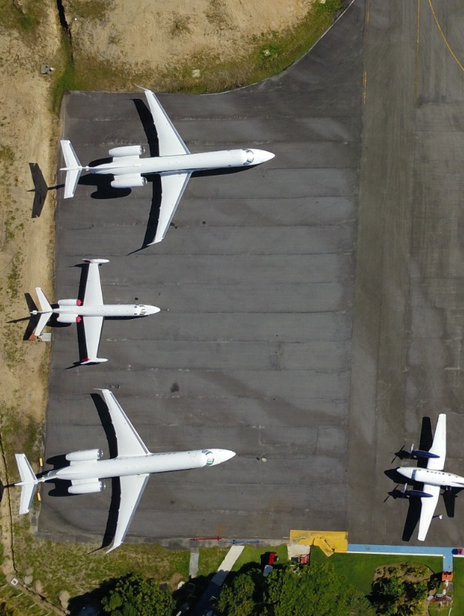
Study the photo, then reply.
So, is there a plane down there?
Yes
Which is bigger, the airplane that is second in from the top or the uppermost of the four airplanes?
the uppermost of the four airplanes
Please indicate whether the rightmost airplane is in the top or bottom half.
bottom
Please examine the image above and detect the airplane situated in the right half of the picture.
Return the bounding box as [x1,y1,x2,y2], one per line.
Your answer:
[396,412,464,540]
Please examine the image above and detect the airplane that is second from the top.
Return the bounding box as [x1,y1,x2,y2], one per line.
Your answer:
[32,261,160,361]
